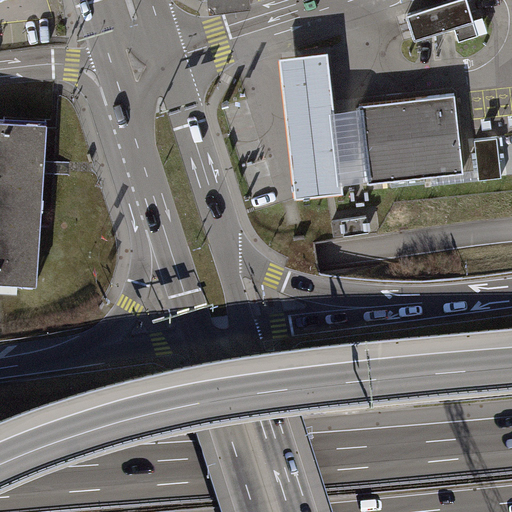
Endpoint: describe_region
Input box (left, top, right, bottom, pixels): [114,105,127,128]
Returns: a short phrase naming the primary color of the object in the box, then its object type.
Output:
gray vehicle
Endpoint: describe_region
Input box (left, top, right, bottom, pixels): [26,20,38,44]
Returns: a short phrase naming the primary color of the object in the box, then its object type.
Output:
white vehicle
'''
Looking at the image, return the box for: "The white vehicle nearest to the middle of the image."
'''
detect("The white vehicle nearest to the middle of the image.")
[250,193,276,206]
